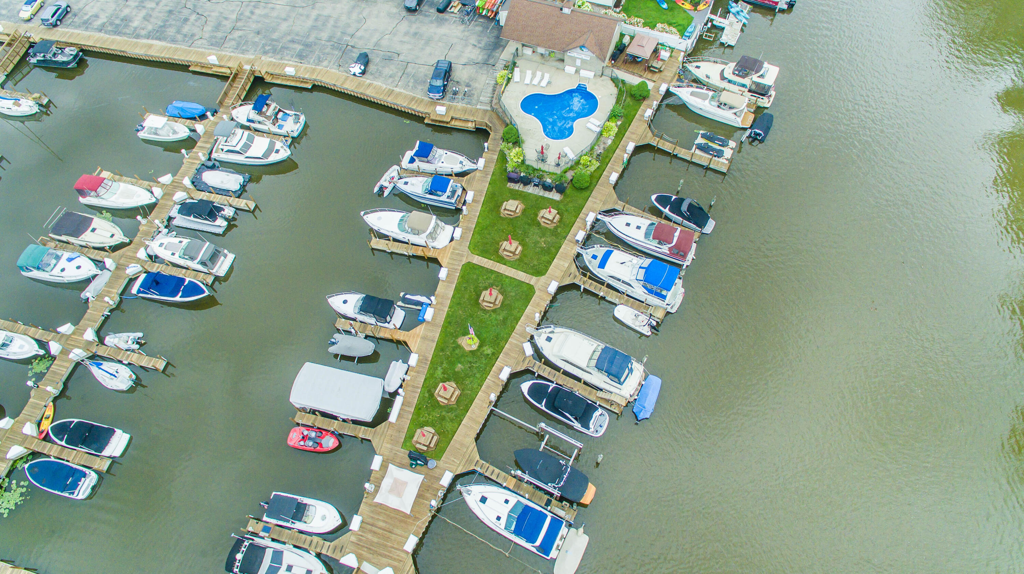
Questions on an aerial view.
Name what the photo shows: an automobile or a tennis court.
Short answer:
automobile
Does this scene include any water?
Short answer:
Yes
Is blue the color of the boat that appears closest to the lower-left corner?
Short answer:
Yes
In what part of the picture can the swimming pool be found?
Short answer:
top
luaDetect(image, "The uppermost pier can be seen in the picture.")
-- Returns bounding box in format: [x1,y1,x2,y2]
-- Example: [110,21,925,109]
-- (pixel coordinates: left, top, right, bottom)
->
[708,3,752,48]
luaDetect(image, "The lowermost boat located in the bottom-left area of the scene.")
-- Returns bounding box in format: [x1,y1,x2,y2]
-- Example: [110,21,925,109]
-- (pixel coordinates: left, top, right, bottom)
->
[218,524,333,574]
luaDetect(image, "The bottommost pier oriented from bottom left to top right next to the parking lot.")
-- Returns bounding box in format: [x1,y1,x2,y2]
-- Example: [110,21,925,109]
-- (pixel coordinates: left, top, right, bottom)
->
[0,108,233,489]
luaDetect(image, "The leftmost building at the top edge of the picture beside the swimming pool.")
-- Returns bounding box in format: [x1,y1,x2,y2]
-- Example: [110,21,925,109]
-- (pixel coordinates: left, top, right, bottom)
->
[499,0,635,83]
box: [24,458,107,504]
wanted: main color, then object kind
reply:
blue boat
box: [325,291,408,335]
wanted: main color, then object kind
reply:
white boat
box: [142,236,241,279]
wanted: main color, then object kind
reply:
white boat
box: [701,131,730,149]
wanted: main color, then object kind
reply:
blue vessel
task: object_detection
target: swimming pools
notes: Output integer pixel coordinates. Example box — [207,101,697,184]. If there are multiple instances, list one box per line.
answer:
[519,72,600,141]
